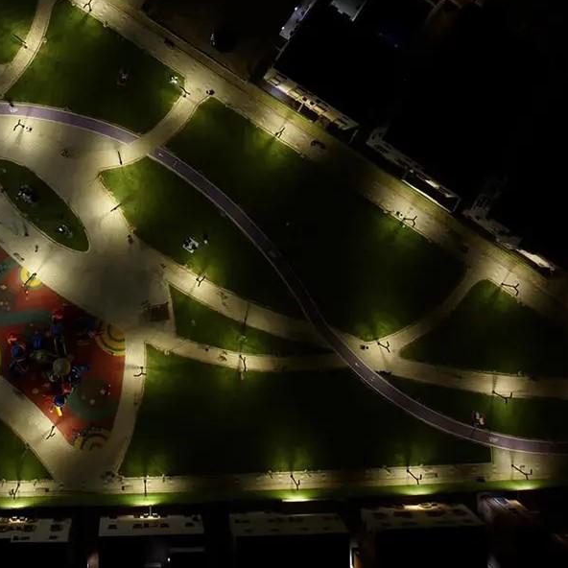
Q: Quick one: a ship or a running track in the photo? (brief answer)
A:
running track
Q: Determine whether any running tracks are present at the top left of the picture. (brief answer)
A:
Yes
